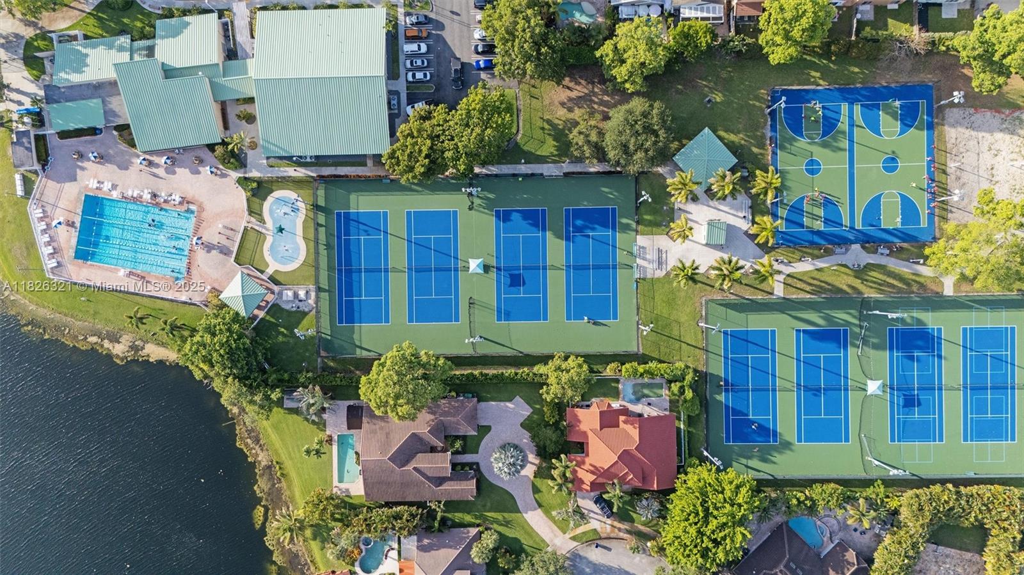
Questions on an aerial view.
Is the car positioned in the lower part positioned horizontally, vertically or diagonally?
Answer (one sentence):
The car positioned in the lower part is oriented diagonally.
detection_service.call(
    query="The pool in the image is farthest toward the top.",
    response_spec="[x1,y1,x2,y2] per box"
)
[555,0,597,24]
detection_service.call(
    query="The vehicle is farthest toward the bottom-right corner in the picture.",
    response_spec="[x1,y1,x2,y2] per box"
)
[592,496,613,519]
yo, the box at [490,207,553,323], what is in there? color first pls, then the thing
blue tennis court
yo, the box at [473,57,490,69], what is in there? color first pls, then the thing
blue vehicle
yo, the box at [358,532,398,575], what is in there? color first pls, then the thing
blue swimming pool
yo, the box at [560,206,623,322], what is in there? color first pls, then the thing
blue tennis court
